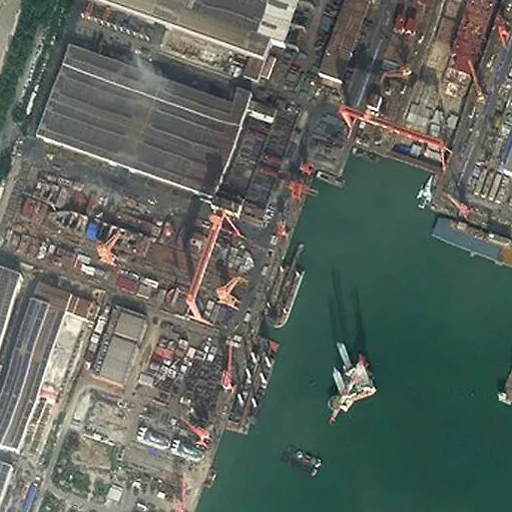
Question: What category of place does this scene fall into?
port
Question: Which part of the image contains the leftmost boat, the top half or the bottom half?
bottom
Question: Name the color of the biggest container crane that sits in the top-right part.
red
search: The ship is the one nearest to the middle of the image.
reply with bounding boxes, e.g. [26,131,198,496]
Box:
[266,247,303,328]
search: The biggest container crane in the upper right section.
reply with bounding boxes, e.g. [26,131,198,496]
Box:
[341,106,455,172]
